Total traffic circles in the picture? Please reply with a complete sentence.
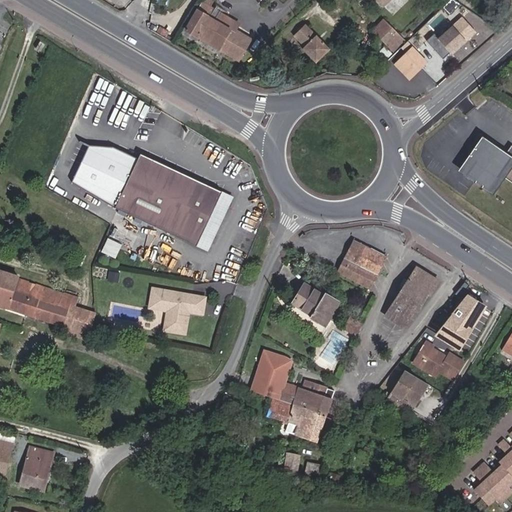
Just 1 traffic circle appears in this view.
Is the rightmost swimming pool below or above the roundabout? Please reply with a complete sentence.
In the image, the rightmost swimming pool sits above the roundabout.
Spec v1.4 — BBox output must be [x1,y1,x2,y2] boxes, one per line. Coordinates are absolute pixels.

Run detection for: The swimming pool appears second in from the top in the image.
[110,302,144,326]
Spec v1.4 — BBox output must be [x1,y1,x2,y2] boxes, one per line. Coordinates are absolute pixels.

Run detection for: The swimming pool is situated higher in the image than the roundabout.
[430,12,452,36]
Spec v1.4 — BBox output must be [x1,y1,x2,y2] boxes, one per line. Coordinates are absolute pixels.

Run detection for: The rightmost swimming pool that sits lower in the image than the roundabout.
[318,329,348,364]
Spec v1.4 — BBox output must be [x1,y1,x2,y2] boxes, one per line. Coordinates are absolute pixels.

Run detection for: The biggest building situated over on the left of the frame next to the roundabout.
[116,154,234,251]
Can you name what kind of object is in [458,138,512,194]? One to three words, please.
building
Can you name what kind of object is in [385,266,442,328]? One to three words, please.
barn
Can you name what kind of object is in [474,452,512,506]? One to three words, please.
house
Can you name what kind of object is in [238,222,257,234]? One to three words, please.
vehicle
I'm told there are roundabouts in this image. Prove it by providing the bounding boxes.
[242,80,436,228]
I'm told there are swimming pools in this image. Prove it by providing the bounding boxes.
[430,12,452,36]
[110,302,144,326]
[318,329,348,364]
